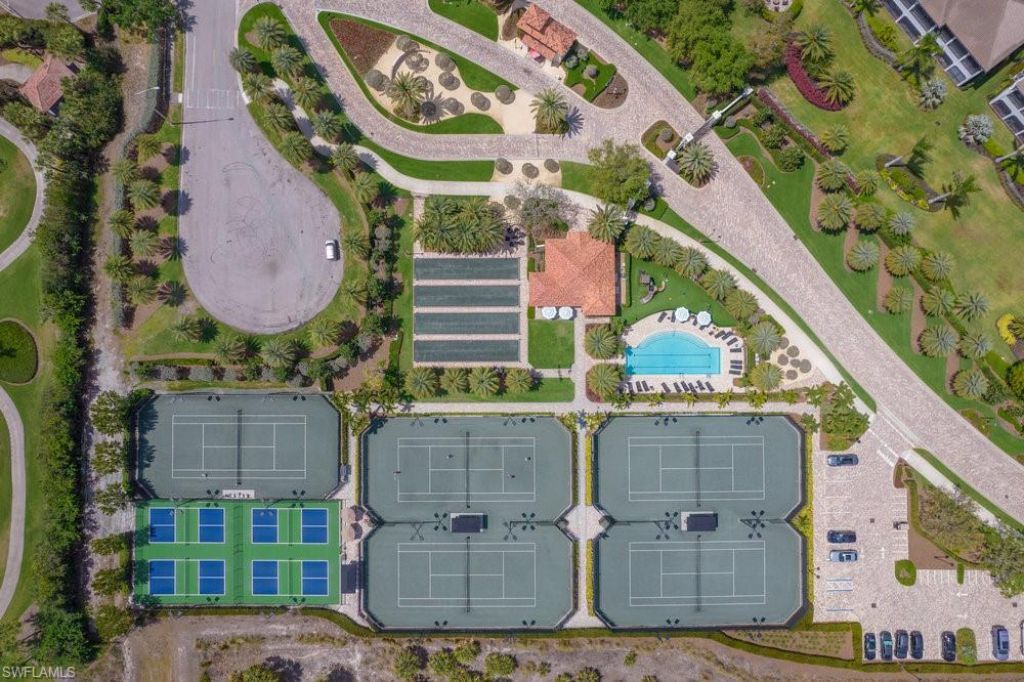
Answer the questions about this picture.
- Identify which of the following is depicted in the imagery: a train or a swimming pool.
swimming pool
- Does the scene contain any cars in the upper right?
No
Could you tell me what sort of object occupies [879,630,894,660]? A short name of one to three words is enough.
car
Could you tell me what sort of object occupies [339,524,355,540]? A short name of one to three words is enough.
umbrella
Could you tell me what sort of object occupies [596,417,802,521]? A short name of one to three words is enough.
tennis court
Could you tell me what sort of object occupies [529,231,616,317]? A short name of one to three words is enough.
building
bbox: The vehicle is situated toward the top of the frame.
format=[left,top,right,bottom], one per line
[323,240,336,261]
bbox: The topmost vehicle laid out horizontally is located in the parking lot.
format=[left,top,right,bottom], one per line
[827,454,858,467]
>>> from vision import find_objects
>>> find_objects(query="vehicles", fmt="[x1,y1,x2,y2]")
[941,631,957,661]
[827,454,858,467]
[879,630,894,660]
[827,530,857,544]
[829,550,858,563]
[323,240,336,261]
[863,632,877,660]
[894,629,910,659]
[909,630,925,660]
[991,626,1010,661]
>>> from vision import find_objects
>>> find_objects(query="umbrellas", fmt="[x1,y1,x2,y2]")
[541,306,557,321]
[558,306,573,321]
[339,524,355,540]
[339,505,355,521]
[529,51,539,61]
[696,311,711,326]
[674,307,689,322]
